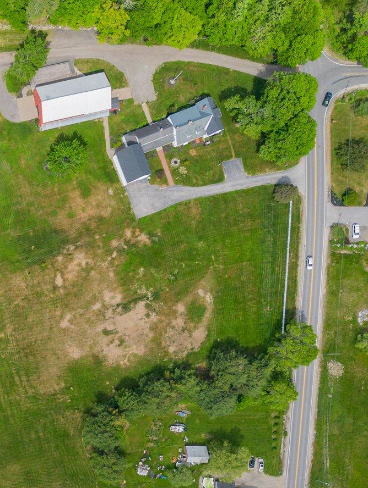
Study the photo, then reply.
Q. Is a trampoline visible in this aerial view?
No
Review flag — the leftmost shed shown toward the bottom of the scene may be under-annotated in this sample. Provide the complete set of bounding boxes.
[183,443,209,463]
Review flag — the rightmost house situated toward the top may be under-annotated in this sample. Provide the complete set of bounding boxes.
[112,97,227,186]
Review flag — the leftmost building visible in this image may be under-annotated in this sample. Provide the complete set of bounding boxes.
[34,73,121,133]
